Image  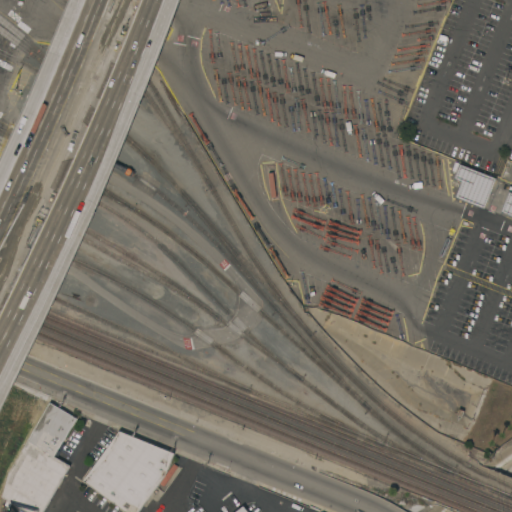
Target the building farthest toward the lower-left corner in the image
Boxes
[3,440,70,512]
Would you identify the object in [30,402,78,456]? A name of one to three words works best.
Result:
building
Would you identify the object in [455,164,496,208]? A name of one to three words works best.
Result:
building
